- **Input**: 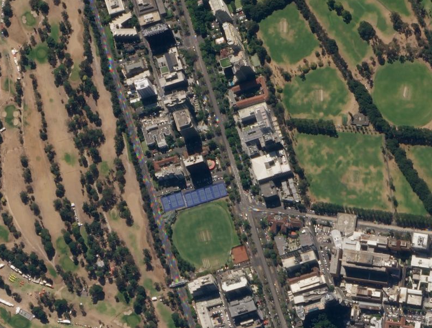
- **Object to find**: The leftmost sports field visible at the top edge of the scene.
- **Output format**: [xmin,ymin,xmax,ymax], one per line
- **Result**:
[261,4,317,64]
